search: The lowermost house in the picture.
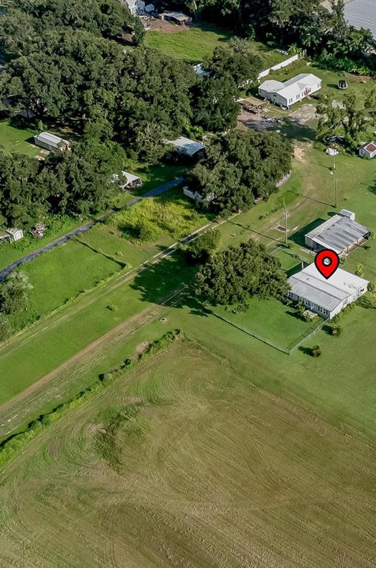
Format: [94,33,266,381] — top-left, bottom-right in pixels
[278,254,372,318]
